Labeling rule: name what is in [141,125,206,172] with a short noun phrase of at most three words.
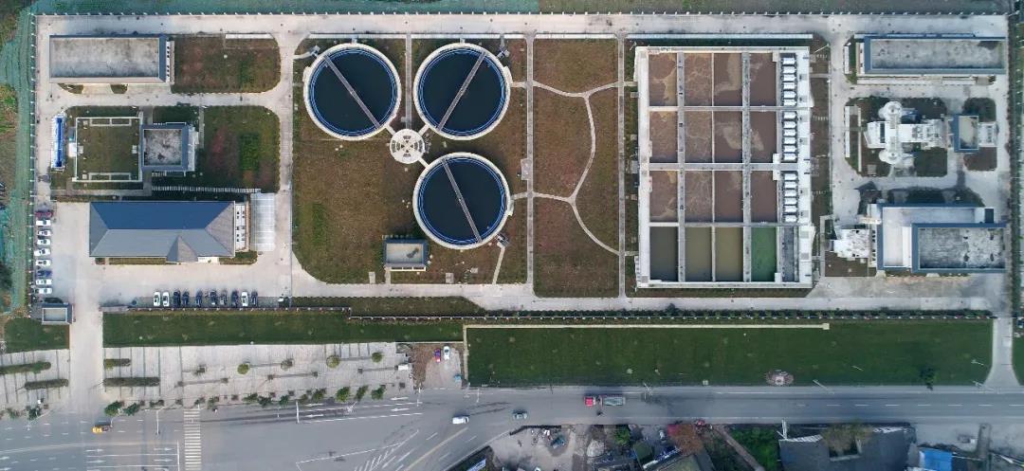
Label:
building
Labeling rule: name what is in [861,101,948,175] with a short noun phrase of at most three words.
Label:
building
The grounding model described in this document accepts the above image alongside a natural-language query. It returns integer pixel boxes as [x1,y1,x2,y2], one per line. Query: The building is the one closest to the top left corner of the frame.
[50,34,178,84]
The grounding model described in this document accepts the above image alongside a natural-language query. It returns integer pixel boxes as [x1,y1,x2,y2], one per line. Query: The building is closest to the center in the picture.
[383,235,429,273]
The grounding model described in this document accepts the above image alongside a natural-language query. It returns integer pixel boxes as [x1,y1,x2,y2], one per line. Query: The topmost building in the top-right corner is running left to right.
[857,35,1006,84]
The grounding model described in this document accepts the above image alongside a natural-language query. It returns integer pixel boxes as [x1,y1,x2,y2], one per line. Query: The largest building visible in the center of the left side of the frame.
[90,202,247,263]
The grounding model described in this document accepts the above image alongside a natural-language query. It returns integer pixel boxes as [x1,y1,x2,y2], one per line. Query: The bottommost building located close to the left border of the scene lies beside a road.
[41,303,78,326]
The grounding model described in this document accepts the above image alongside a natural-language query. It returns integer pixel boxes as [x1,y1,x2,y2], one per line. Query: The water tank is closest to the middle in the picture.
[413,152,514,250]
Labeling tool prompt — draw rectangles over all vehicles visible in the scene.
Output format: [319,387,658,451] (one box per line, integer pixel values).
[586,397,627,407]
[91,425,110,433]
[180,291,189,306]
[240,291,247,306]
[171,291,180,306]
[35,213,52,220]
[33,220,51,227]
[452,417,468,425]
[36,230,51,236]
[209,291,217,306]
[160,291,169,306]
[34,260,50,267]
[33,248,49,256]
[43,295,60,302]
[36,239,51,245]
[250,291,257,306]
[434,348,440,363]
[443,345,450,361]
[230,291,238,306]
[194,291,202,306]
[35,279,51,286]
[35,270,51,277]
[151,291,160,306]
[35,288,51,295]
[512,412,528,420]
[219,291,227,306]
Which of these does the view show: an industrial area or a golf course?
industrial area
